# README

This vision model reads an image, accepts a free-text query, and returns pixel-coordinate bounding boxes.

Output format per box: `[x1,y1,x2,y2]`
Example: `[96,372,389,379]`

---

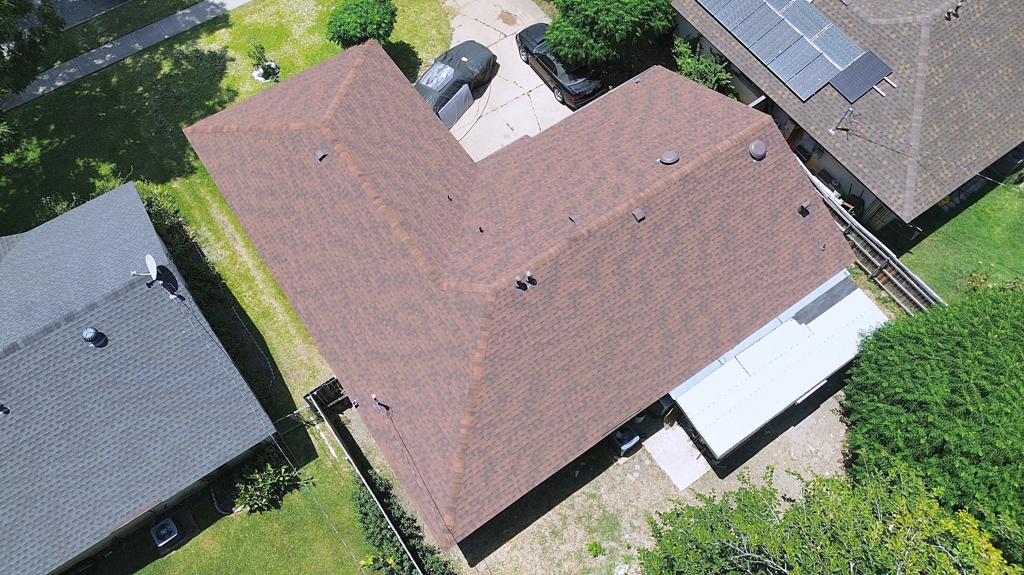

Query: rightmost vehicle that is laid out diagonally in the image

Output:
[514,19,611,109]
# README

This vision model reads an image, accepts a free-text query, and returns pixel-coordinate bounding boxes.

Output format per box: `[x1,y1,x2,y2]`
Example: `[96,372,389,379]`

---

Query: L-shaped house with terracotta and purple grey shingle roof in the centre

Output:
[183,37,855,555]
